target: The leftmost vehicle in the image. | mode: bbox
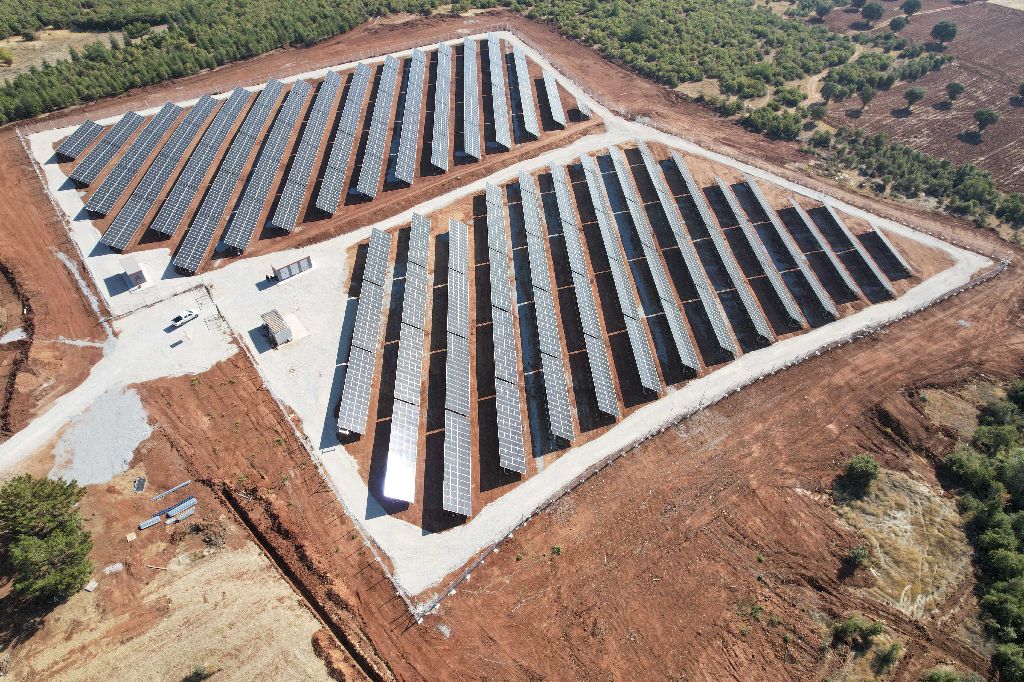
[171,308,200,326]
